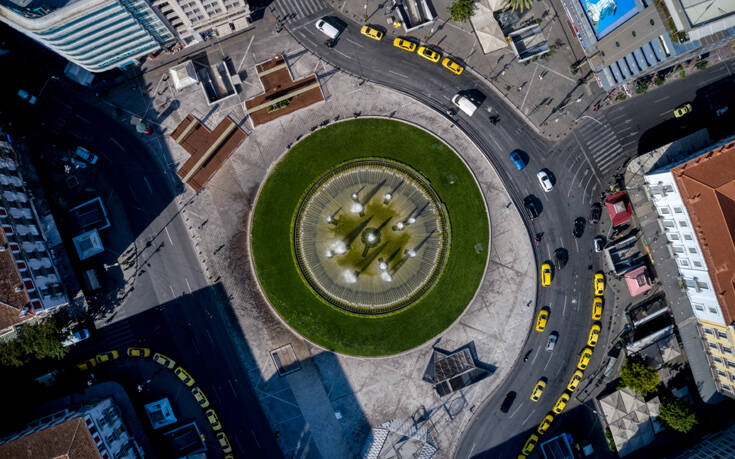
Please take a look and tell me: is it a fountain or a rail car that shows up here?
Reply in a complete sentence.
I can see a fountain in this picture.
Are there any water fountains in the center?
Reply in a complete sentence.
Yes, there is a water fountain in the center.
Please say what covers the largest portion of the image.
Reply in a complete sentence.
What you mostly see from above here is paved ground.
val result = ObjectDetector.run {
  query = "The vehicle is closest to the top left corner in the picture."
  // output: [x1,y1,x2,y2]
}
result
[15,88,37,104]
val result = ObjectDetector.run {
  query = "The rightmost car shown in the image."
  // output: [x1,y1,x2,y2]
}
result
[712,104,734,119]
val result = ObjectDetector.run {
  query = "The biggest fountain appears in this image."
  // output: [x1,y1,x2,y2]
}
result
[290,157,450,317]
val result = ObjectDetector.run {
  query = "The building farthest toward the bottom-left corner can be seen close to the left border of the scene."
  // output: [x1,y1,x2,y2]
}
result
[0,394,147,459]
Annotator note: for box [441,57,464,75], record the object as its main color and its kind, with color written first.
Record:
yellow car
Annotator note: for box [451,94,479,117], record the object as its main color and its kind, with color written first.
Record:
white vehicle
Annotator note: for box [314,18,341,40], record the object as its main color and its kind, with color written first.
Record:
white vehicle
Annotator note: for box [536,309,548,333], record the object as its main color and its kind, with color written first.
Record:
yellow vehicle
